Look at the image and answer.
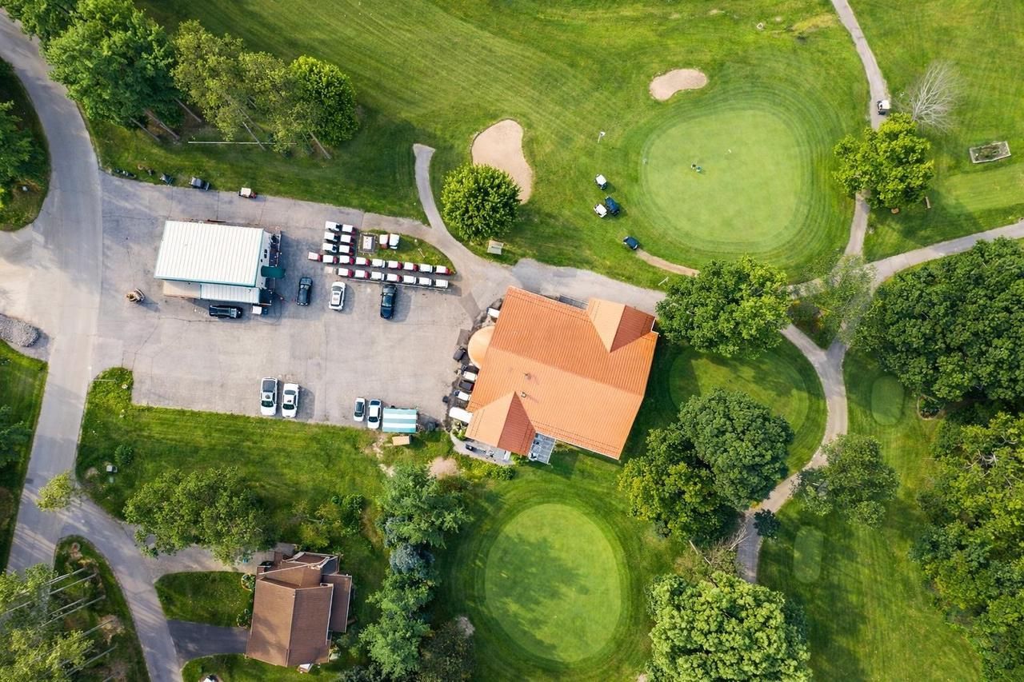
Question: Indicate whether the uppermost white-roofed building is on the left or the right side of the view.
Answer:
left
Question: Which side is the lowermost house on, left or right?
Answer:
left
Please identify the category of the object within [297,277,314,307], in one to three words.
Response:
car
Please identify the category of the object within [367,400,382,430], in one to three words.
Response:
car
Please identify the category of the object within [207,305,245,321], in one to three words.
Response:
vehicle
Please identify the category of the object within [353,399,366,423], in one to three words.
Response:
vehicle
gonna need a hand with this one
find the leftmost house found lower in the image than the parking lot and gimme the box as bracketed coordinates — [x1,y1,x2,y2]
[245,546,354,667]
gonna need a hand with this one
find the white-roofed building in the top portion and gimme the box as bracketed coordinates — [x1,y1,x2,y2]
[154,221,290,306]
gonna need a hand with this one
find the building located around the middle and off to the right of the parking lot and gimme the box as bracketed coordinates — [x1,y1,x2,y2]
[466,285,658,464]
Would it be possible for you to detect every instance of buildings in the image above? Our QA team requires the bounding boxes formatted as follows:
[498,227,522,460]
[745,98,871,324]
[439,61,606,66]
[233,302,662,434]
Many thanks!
[245,546,354,667]
[154,221,290,306]
[466,285,658,464]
